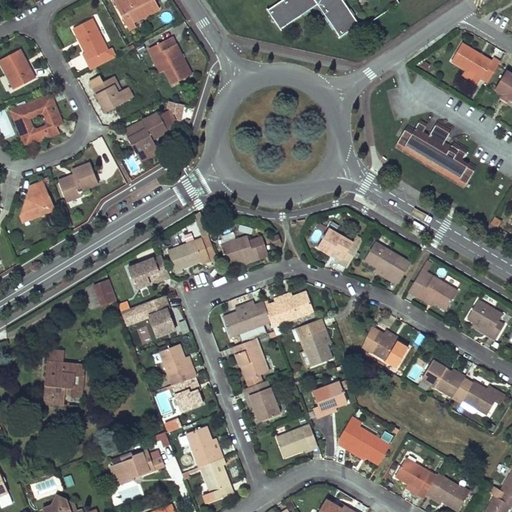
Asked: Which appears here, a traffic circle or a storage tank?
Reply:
traffic circle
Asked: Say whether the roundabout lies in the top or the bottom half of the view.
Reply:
top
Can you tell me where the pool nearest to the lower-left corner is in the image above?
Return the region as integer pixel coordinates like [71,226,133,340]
[34,478,58,492]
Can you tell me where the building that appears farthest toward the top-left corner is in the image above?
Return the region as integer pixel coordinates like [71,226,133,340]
[0,49,37,89]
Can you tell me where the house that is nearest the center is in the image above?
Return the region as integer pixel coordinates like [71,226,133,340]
[222,235,269,264]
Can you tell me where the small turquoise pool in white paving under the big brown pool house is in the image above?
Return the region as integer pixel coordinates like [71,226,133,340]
[124,152,142,176]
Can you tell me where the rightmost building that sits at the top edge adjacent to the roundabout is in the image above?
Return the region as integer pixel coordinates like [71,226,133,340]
[267,0,360,38]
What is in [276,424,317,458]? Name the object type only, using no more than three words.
house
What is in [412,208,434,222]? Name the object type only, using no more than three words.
vehicle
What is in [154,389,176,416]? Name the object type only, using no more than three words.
swimming pool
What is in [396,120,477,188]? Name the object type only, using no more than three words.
building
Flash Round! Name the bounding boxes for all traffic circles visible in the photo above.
[206,62,351,208]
